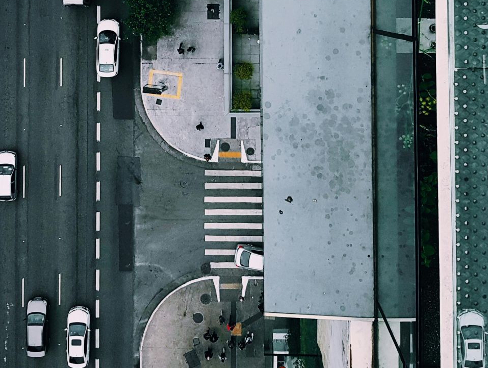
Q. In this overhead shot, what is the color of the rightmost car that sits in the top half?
white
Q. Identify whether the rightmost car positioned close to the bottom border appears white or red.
white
